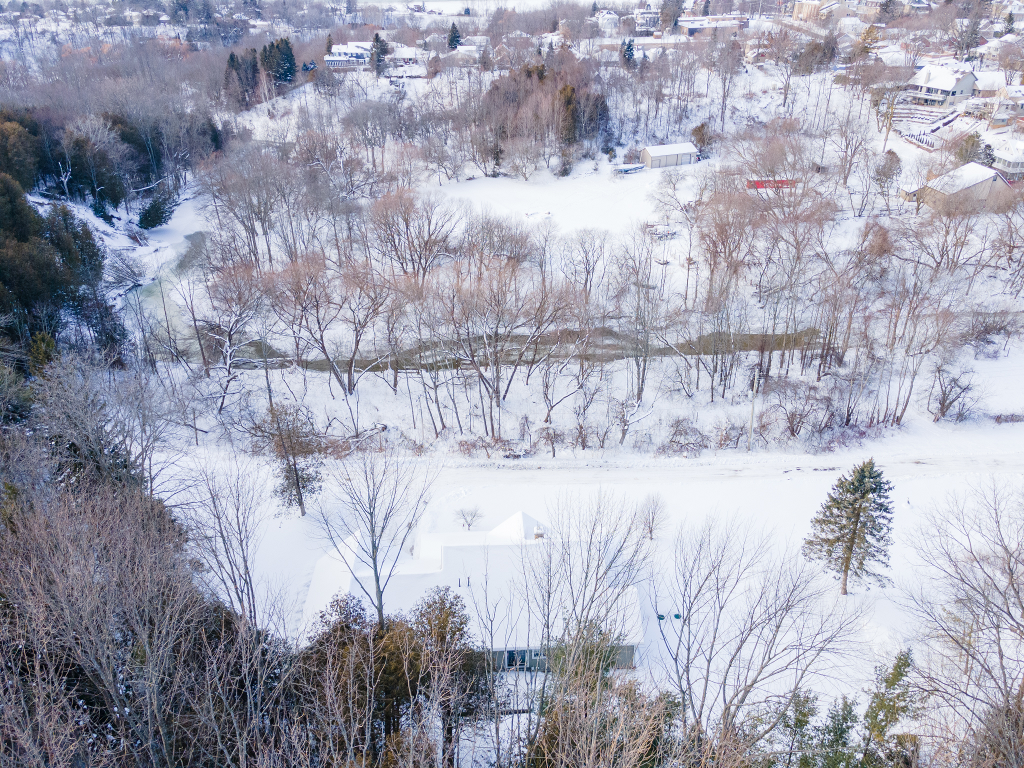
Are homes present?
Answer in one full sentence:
Yes, the picture does show a home.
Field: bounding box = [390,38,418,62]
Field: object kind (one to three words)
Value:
house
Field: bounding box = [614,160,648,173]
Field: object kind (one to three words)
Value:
boat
